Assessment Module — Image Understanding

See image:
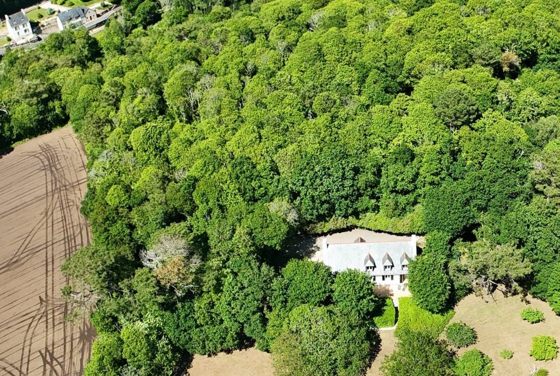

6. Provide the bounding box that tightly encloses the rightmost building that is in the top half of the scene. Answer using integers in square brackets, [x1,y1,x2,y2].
[58,4,109,34]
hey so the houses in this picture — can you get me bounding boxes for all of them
[58,4,109,34]
[3,6,46,50]
[323,232,417,285]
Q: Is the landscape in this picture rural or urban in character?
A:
rural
